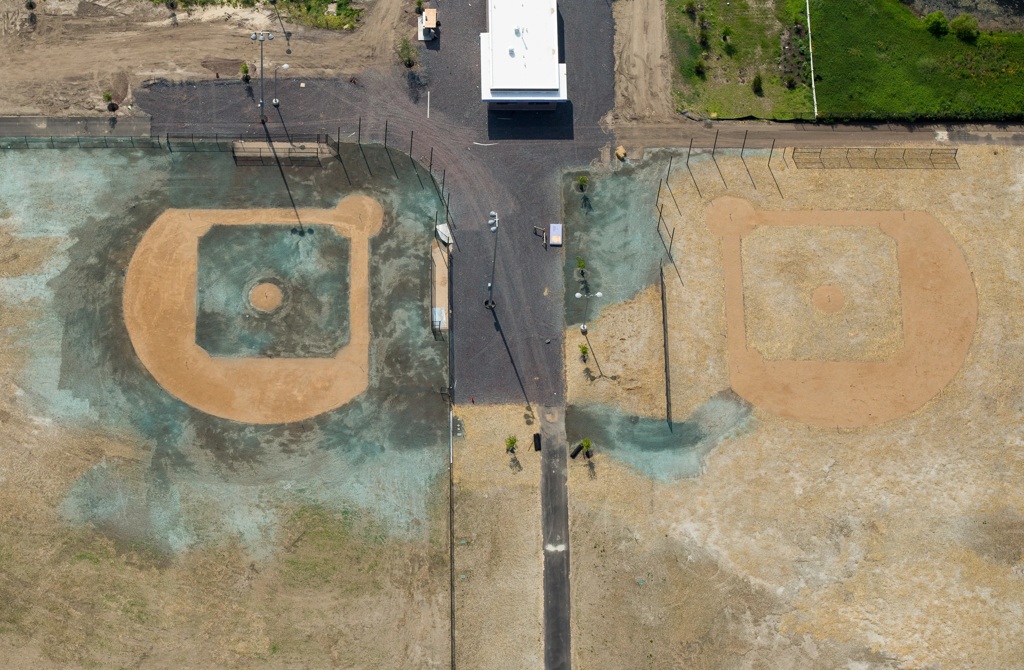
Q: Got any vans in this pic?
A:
No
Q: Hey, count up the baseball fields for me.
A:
2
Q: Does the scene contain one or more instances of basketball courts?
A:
No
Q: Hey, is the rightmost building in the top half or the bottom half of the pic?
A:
top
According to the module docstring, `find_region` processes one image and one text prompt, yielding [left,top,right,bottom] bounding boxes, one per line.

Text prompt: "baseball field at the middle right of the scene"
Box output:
[705,196,977,428]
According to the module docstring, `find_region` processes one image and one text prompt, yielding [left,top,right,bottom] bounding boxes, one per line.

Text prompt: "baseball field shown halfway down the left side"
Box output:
[124,195,382,424]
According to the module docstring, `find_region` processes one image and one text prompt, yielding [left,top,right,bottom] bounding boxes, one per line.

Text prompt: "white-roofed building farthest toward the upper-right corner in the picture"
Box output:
[479,0,567,110]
